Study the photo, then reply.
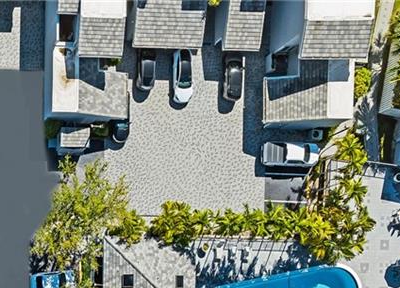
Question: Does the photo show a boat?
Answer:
No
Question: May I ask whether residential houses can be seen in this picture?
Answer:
Yes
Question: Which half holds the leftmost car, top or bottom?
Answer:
bottom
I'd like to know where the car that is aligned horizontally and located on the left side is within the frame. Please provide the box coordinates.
[29,268,76,288]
